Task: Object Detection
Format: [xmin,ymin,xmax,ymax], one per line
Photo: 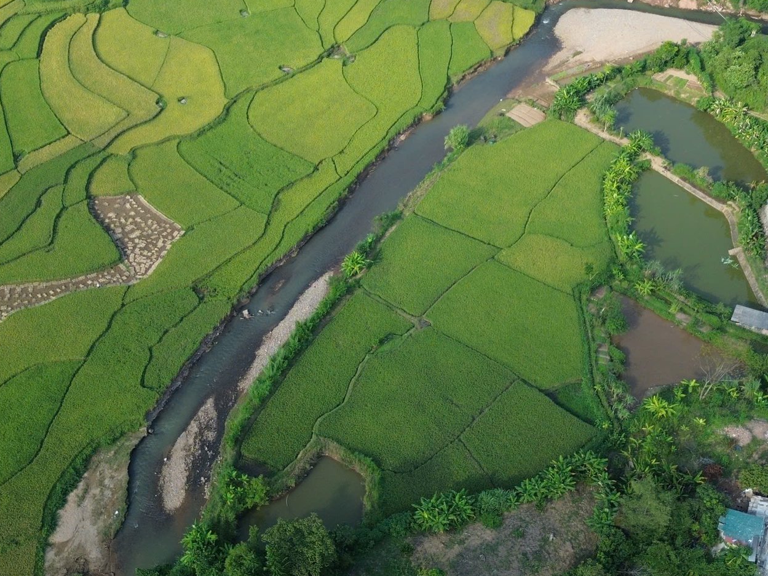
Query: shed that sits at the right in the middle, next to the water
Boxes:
[732,304,768,332]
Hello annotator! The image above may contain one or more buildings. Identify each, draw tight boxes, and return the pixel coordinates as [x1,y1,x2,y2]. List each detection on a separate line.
[717,508,768,552]
[732,304,768,332]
